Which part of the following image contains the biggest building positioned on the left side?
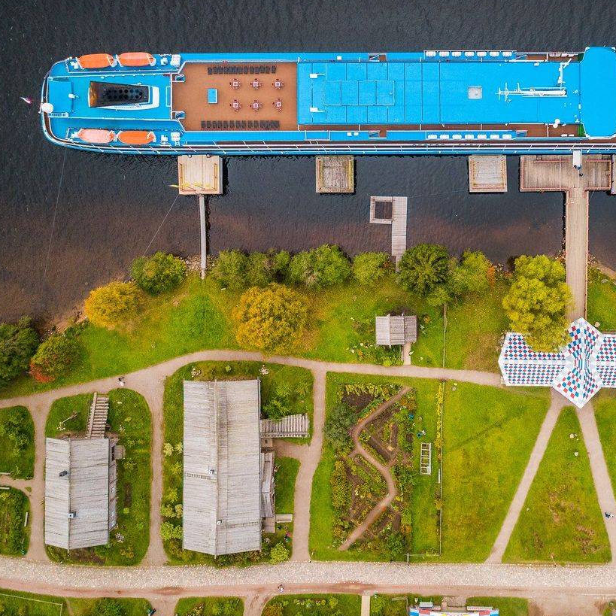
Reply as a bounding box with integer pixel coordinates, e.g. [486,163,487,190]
[183,377,310,560]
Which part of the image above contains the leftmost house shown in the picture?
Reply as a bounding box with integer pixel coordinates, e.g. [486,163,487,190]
[44,393,128,554]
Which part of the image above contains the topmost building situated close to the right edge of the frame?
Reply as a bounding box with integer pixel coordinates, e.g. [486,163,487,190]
[498,317,616,410]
